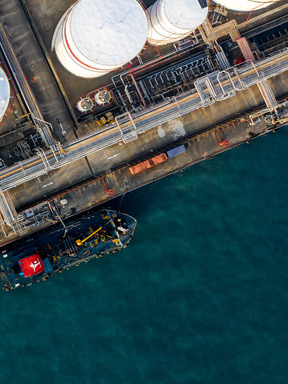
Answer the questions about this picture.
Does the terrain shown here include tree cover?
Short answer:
No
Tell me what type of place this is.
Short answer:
industrial area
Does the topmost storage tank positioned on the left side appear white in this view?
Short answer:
Yes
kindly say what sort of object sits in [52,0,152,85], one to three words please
storage tank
